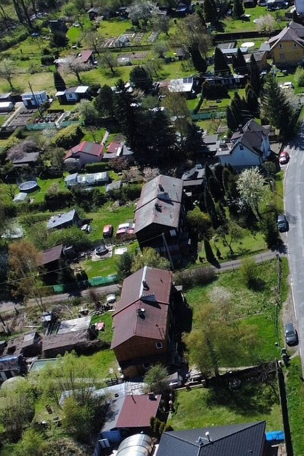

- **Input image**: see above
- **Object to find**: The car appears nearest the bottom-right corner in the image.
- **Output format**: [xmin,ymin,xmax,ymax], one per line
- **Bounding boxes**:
[283,321,298,346]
